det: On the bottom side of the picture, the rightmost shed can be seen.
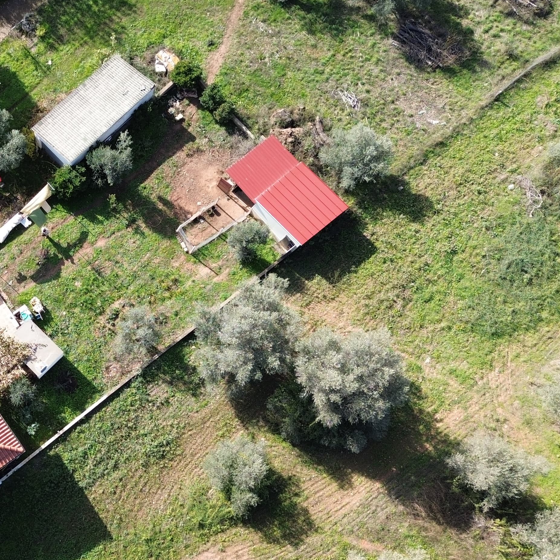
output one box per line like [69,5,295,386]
[15,321,63,379]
